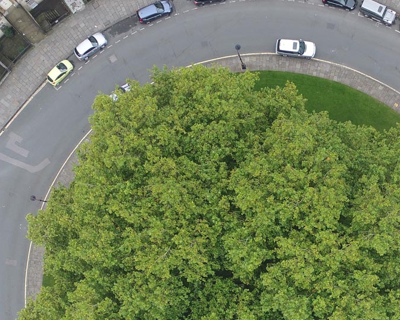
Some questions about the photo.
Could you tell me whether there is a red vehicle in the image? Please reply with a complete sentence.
No, the picture doesn't show any red vehicle.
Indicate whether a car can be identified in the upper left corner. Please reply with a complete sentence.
Yes, the scene does show a car in the upper left corner.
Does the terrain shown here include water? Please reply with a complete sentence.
No, there's no water in this view.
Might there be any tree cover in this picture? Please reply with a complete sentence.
Yes, there is tree cover in the image.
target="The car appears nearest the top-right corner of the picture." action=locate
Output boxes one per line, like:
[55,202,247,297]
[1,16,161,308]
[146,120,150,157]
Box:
[359,1,397,26]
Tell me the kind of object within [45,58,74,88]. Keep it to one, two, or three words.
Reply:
car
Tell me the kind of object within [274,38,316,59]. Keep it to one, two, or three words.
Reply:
car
